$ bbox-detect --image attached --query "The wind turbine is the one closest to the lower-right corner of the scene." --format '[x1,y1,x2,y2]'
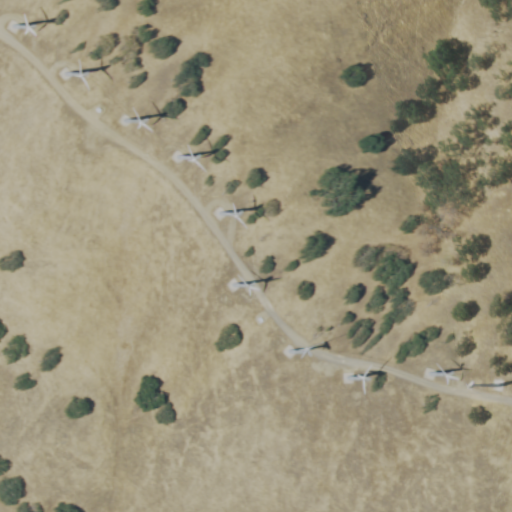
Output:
[425,366,456,386]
